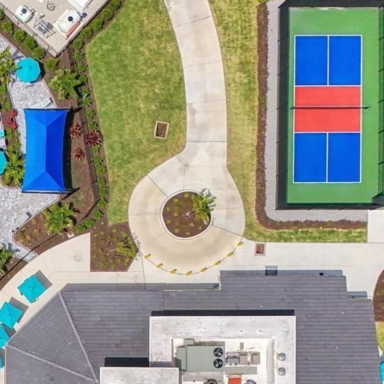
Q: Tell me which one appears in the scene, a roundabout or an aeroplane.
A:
roundabout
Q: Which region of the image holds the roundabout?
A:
center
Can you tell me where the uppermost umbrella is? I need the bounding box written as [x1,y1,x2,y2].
[15,59,40,84]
